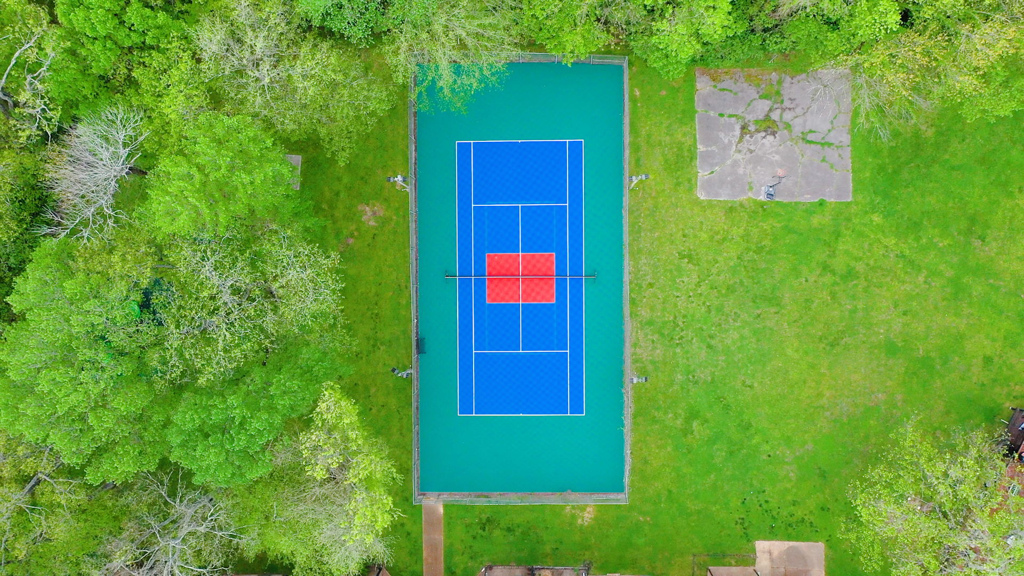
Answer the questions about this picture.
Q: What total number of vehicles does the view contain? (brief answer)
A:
0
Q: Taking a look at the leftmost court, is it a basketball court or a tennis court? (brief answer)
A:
tennis court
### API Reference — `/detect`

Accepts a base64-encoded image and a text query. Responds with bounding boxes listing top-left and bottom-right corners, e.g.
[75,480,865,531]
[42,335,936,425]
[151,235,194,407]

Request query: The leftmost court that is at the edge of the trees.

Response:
[412,60,629,497]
